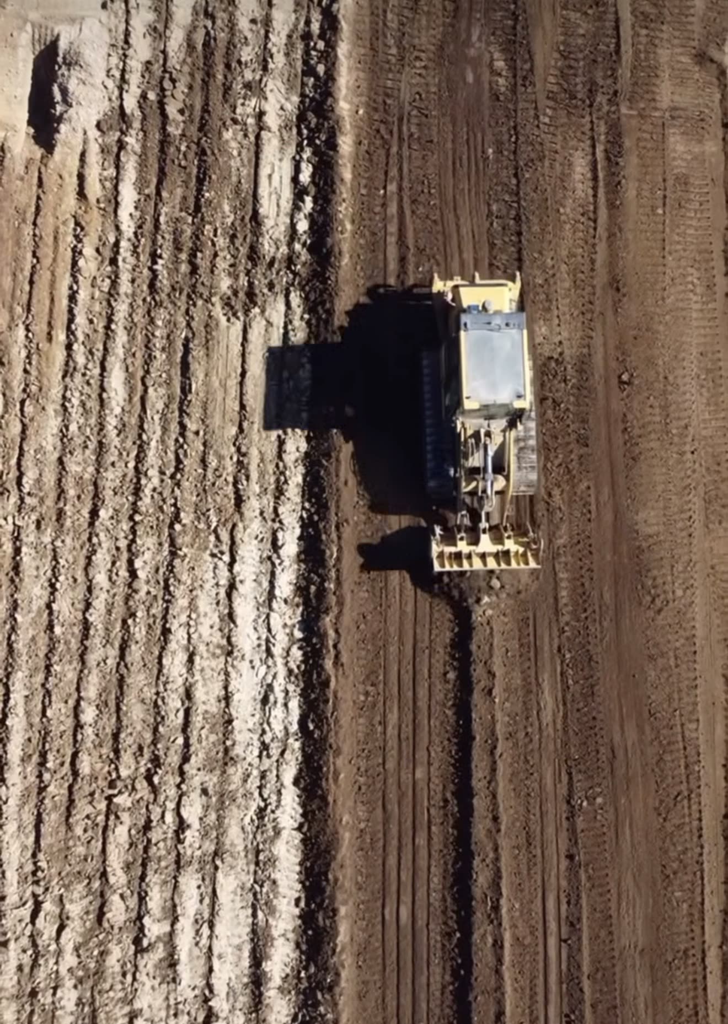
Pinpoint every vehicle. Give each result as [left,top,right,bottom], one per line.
[419,272,542,573]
